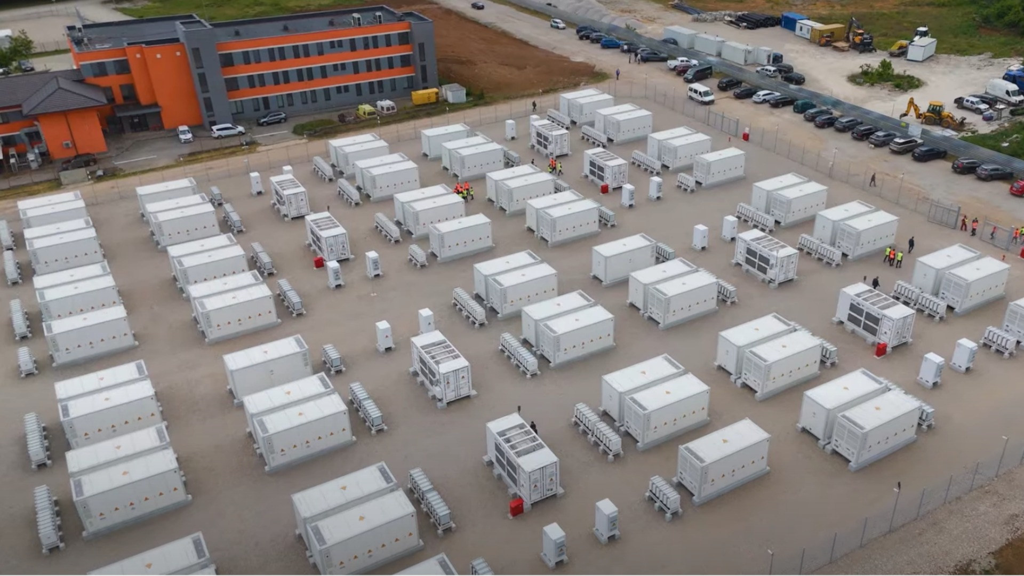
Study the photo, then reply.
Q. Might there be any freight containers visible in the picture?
Yes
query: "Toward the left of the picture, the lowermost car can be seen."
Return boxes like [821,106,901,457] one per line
[58,152,100,170]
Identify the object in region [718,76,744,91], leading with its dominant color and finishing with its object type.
black car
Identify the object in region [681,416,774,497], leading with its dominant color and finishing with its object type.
white shipping container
